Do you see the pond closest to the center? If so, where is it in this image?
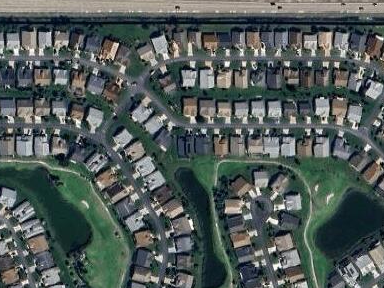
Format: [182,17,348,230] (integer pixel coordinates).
[175,168,228,288]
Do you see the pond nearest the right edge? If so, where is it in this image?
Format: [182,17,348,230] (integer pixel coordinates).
[314,189,384,261]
